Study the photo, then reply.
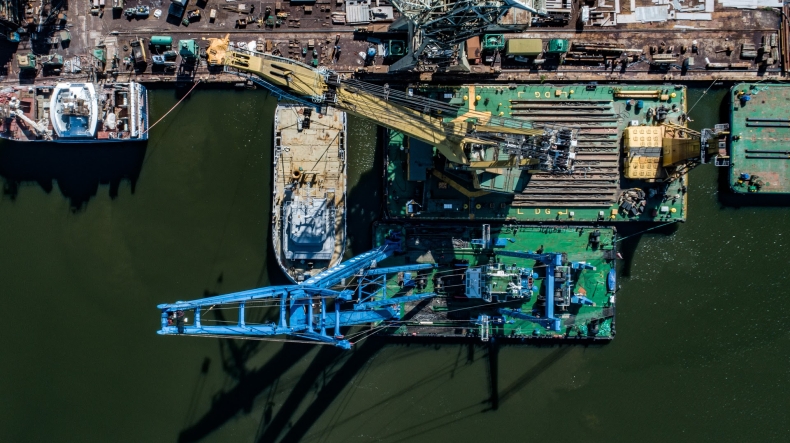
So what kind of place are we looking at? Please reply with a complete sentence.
The picture captures a port.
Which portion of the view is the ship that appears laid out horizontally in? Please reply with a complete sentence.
You can find the ship that appears laid out horizontally in the top left area of the picture.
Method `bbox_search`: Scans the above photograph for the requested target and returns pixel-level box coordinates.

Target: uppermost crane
[359,0,559,74]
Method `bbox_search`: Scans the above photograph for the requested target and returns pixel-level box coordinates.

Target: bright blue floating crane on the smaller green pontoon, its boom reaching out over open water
[153,222,618,350]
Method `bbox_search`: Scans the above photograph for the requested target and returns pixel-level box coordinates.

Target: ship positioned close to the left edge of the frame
[0,82,148,143]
